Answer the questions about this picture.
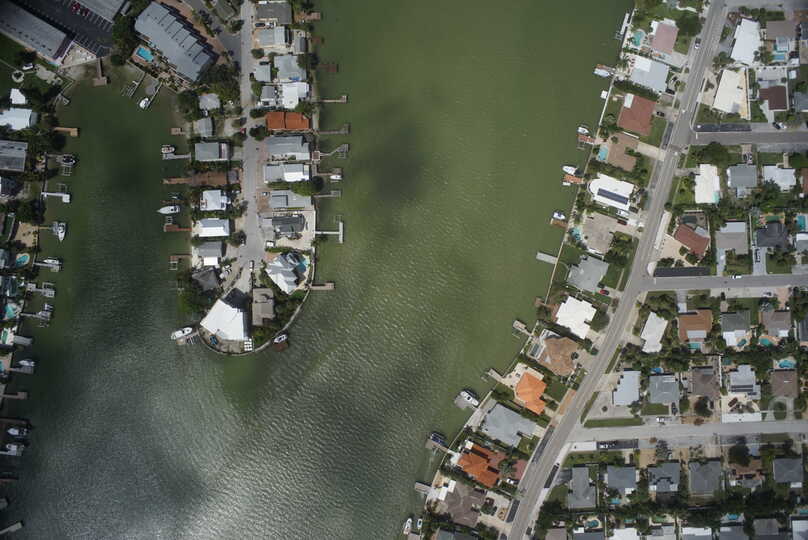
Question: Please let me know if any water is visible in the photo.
Yes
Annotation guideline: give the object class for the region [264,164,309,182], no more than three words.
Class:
house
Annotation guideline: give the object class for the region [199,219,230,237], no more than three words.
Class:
house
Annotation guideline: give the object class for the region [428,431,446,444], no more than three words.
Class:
boat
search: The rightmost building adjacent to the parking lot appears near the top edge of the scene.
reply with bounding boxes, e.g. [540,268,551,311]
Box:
[135,2,213,87]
